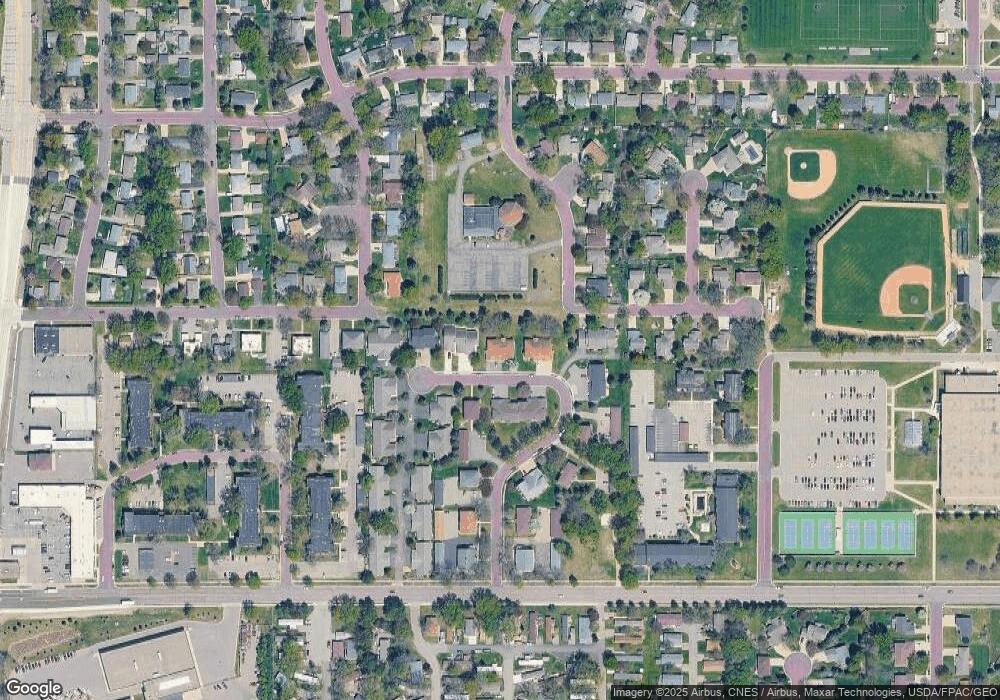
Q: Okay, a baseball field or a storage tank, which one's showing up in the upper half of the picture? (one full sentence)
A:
What appears in the upper half of the picture is a baseball field.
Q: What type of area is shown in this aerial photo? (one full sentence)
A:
It's a residential area.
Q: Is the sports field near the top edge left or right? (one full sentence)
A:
The sports field near the top edge is on the right side of the image.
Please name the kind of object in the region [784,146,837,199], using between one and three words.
baseball field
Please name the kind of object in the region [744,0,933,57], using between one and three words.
sports field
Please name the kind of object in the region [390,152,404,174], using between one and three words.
house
